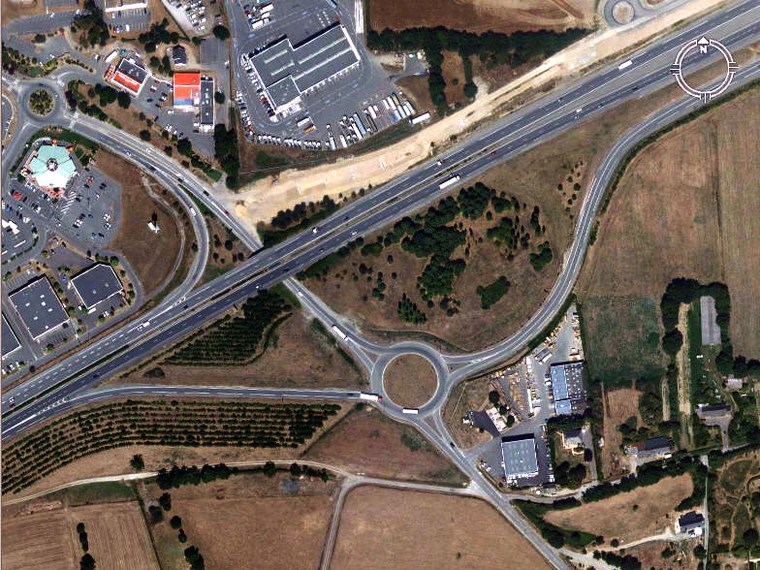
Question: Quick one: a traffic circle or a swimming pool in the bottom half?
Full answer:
What appears in the bottom half is a traffic circle.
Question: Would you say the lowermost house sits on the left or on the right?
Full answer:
The lowermost house appears in the right half of the scene.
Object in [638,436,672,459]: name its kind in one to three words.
house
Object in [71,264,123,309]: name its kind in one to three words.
shed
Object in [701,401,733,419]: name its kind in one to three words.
house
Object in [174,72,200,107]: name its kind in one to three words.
building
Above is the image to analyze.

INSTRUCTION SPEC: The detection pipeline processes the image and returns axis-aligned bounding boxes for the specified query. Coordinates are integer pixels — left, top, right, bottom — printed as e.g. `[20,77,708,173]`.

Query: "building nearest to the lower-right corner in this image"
[678,511,705,533]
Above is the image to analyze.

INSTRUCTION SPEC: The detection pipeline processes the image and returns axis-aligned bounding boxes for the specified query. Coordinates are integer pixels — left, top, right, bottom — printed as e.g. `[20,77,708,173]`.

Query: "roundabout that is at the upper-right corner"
[604,0,643,31]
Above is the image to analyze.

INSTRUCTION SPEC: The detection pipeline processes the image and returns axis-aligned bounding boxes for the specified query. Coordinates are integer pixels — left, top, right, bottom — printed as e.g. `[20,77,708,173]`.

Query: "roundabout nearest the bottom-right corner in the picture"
[370,341,451,421]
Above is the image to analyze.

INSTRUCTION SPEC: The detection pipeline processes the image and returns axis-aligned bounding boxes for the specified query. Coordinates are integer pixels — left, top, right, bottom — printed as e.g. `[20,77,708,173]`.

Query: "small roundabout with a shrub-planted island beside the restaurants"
[19,79,64,125]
